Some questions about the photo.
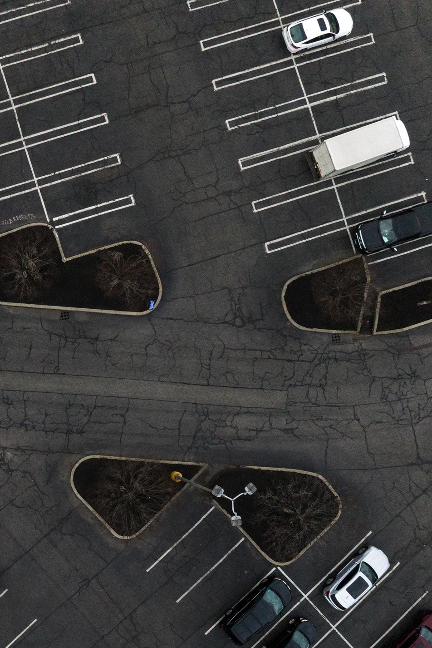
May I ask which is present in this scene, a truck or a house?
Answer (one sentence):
The image shows a truck.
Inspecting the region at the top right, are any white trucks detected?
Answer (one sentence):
Yes, a white truck is visible at the top right.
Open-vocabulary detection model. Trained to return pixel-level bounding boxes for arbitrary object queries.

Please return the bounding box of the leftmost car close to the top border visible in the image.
[281,9,352,55]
